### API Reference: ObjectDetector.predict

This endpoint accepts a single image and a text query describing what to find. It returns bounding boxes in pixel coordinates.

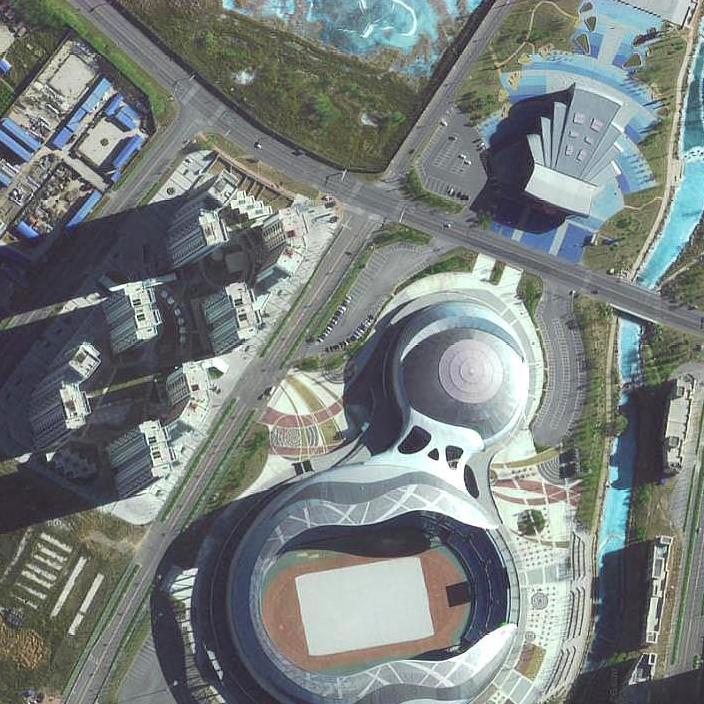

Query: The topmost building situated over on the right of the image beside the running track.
[338,302,535,532]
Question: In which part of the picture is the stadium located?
bottom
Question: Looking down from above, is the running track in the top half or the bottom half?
bottom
